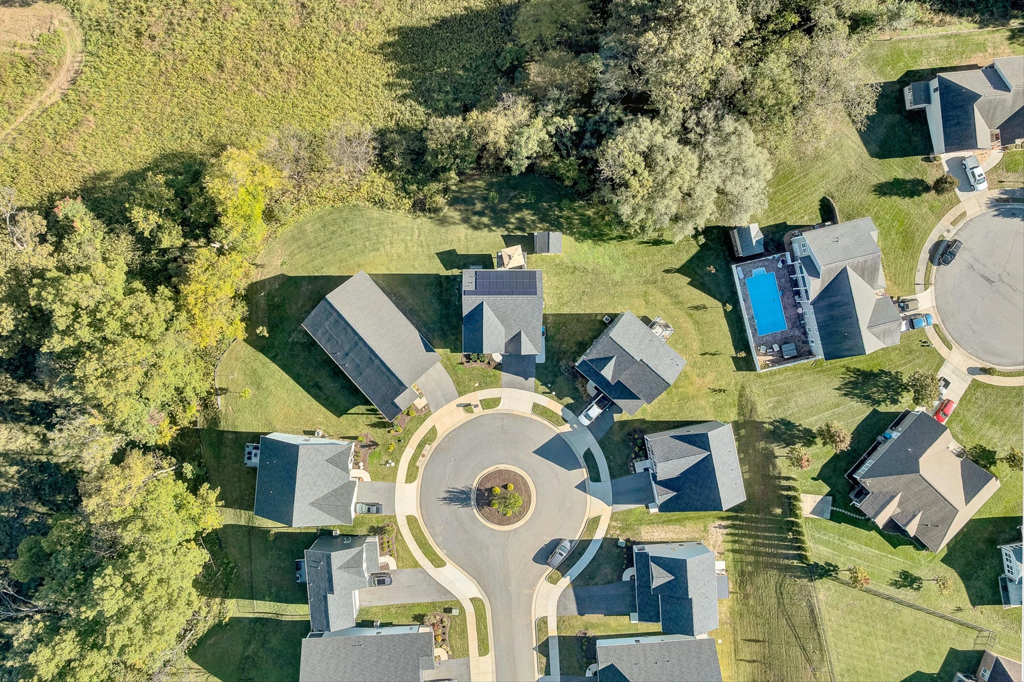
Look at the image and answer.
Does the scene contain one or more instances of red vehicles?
Yes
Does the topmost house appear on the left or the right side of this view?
right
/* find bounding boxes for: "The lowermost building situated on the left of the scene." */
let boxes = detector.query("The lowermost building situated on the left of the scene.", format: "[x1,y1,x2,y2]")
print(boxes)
[302,619,441,682]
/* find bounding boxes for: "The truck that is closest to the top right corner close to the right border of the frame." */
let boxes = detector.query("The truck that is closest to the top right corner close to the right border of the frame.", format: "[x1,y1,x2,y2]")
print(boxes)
[962,156,988,190]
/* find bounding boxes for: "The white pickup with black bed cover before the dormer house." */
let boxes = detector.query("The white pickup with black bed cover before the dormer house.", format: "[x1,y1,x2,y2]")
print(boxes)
[580,395,613,425]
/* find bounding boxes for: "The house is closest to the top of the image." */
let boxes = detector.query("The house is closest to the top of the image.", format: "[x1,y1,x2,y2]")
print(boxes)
[903,56,1024,153]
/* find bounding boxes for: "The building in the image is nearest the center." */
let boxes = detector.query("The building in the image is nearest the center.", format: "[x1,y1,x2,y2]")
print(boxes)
[462,269,543,355]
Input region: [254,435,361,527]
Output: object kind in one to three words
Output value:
house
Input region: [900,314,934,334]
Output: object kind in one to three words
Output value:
vehicle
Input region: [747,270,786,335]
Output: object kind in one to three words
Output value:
swimming pool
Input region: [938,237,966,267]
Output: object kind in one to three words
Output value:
car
